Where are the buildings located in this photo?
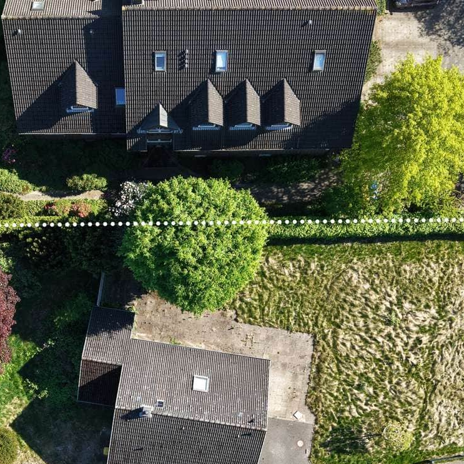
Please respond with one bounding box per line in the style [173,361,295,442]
[77,305,273,464]
[0,0,378,184]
